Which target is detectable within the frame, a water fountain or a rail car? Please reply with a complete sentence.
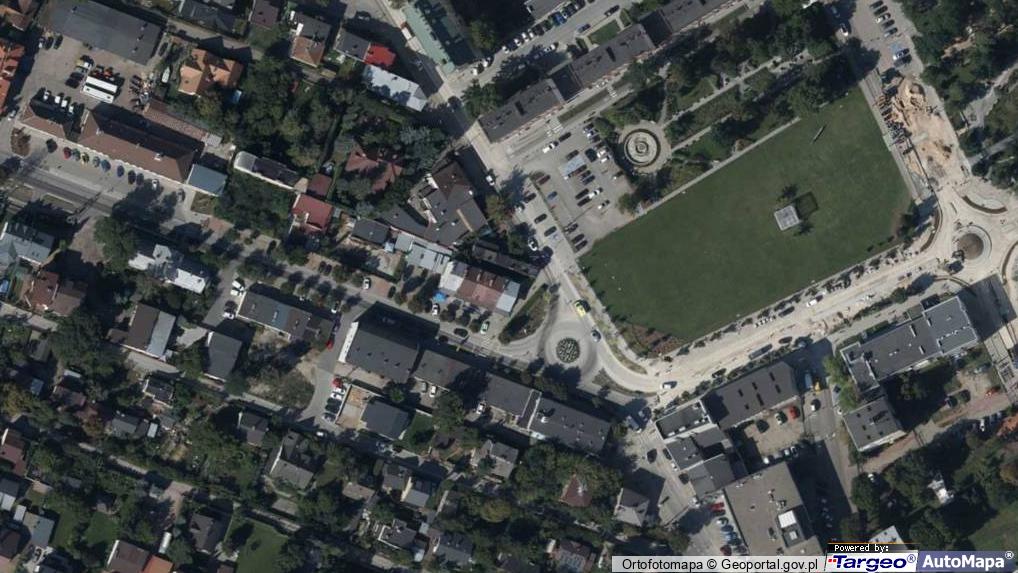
I can see a water fountain in this picture.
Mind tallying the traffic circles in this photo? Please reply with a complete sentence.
Altogether the scene contains 2 traffic circles.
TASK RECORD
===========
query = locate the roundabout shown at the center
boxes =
[537,288,598,380]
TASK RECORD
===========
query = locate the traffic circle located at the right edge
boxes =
[937,212,1005,280]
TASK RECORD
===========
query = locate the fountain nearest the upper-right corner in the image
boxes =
[623,129,660,166]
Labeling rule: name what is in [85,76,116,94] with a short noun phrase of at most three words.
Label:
vehicle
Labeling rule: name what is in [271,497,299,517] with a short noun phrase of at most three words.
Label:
building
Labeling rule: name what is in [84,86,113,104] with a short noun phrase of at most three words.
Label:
vehicle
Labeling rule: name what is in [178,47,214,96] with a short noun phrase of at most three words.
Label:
house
